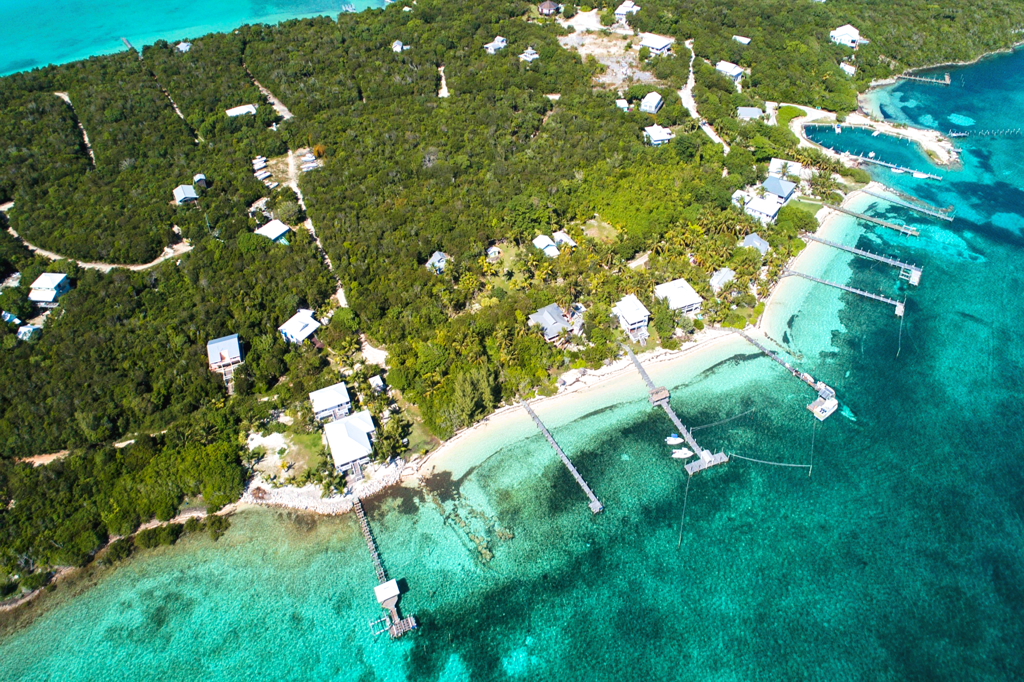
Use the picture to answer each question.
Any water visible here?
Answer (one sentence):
Yes, water shows up in the scene.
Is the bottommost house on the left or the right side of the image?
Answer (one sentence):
The bottommost house appears in the left half of the scene.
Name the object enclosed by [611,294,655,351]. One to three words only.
house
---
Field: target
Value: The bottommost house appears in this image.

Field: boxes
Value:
[324,410,378,486]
